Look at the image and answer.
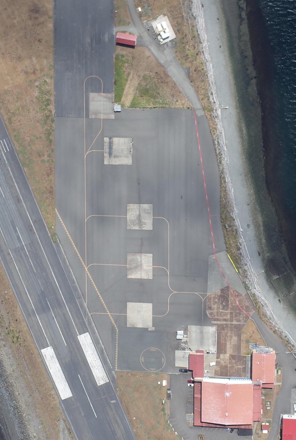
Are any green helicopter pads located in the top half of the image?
No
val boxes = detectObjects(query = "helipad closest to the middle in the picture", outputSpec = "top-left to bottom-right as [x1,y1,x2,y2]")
[127,204,153,230]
